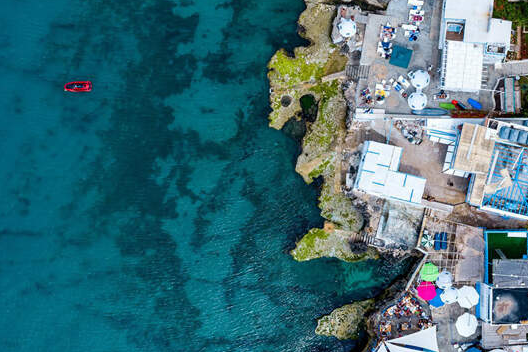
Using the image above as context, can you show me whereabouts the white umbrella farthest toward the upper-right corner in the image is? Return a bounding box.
[409,68,429,89]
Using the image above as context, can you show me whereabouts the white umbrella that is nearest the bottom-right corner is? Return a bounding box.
[456,313,477,335]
